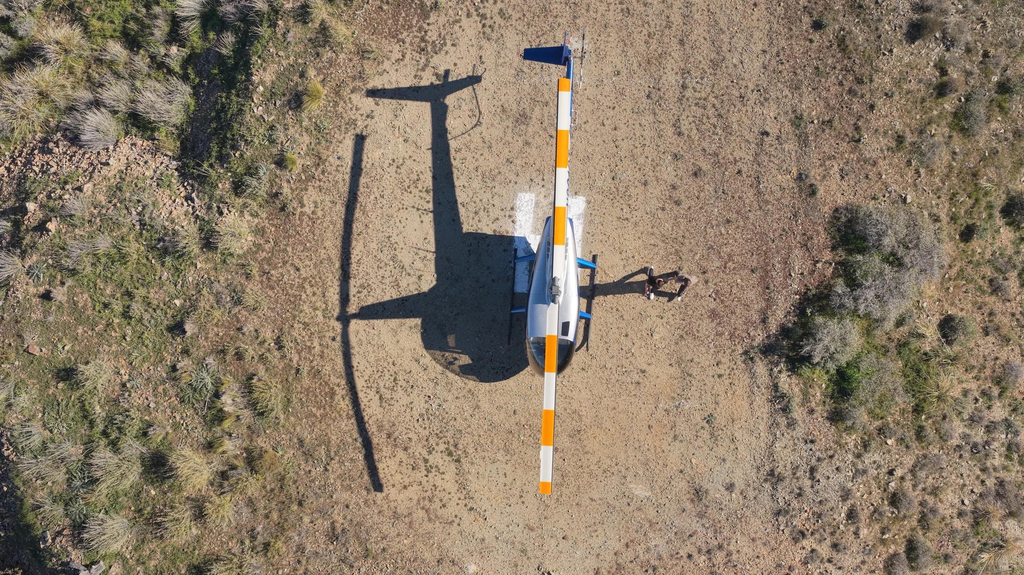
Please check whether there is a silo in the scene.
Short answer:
No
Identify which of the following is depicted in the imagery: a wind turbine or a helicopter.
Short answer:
helicopter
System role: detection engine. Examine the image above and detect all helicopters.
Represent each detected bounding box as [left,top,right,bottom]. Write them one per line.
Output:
[507,24,597,495]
